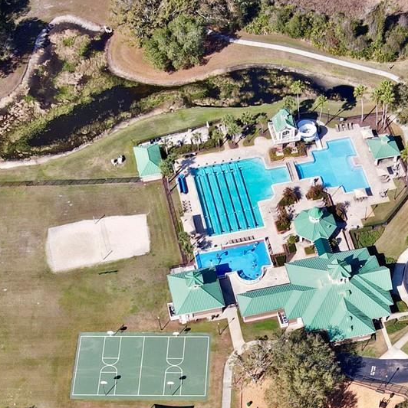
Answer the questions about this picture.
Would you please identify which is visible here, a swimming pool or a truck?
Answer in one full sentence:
The one in the frame is a swimming pool.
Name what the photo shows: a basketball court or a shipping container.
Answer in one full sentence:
It is a basketball court that can be seen here.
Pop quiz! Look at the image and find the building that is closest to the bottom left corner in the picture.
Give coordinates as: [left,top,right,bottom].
[168,267,226,321]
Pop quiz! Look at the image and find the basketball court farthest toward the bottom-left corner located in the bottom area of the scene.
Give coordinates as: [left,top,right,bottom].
[71,331,145,400]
